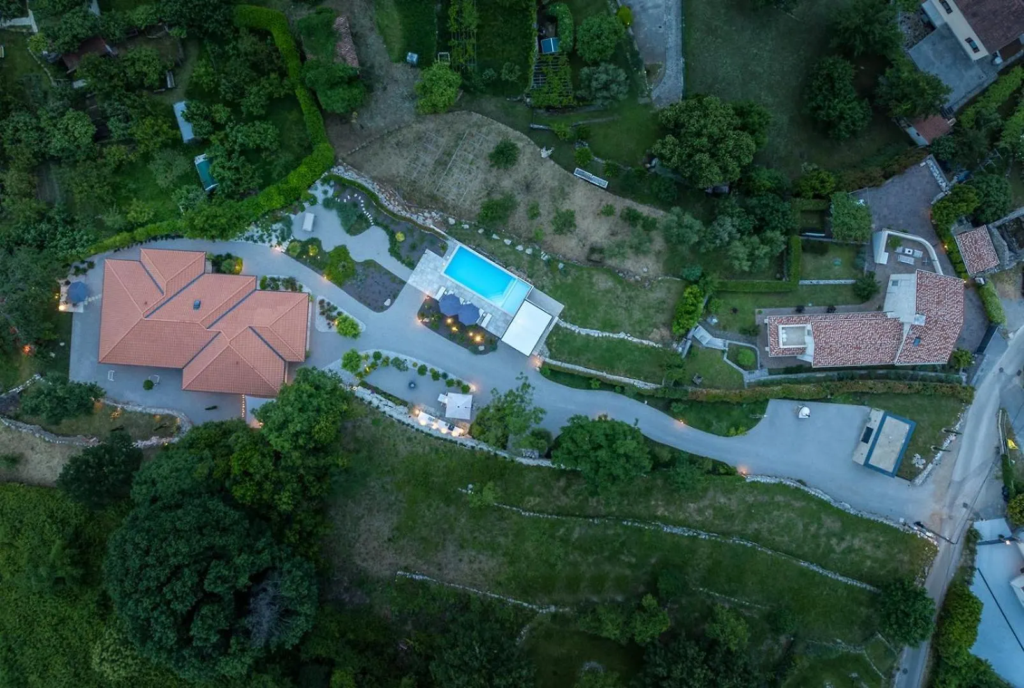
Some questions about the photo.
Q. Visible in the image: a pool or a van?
pool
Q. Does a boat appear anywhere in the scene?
No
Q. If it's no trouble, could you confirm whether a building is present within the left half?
Yes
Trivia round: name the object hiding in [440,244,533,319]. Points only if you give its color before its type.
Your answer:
blue swimming pool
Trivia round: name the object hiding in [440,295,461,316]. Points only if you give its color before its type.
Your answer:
blue umbrella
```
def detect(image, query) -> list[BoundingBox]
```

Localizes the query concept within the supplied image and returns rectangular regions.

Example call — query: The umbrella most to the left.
[69,282,94,303]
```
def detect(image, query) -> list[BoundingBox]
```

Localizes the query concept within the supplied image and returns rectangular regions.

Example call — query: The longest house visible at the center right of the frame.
[763,269,965,368]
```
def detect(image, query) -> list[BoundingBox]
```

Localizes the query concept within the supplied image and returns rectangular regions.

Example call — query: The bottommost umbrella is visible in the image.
[446,393,472,419]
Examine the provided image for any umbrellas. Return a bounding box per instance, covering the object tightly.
[69,282,94,303]
[446,393,472,419]
[458,303,481,326]
[440,295,461,316]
